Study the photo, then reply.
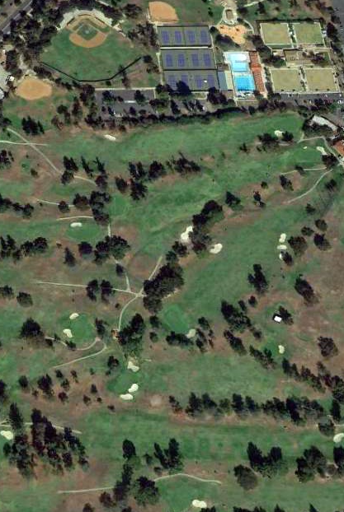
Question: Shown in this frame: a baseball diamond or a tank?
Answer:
baseball diamond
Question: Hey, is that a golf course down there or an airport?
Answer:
golf course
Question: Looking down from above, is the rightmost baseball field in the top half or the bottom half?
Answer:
top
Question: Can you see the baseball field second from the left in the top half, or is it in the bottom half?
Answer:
top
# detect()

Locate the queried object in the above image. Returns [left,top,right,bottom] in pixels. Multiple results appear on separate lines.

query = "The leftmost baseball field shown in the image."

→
[17,73,53,99]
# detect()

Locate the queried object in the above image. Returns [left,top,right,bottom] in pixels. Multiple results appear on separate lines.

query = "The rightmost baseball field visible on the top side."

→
[147,0,179,29]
